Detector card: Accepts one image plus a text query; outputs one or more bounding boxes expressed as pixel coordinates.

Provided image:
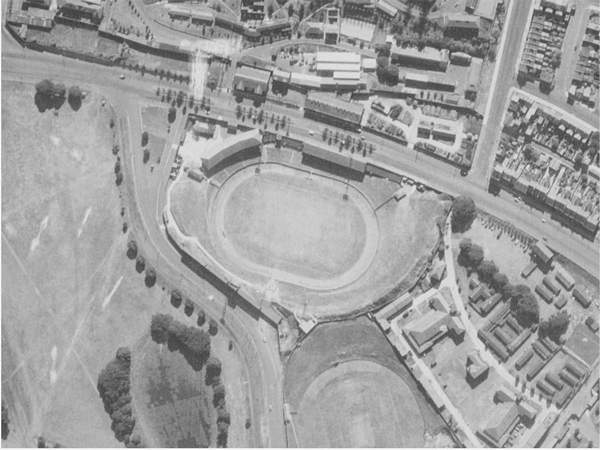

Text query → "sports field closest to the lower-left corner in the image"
[134,338,216,450]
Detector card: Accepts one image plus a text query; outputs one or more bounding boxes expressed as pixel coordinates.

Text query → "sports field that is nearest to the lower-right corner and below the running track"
[285,316,463,450]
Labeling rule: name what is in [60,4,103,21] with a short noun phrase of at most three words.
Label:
building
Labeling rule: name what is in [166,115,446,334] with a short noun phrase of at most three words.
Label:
stadium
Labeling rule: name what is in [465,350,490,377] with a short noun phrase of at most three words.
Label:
house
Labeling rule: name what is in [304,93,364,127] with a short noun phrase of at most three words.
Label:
building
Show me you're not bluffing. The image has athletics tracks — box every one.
[209,165,379,290]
